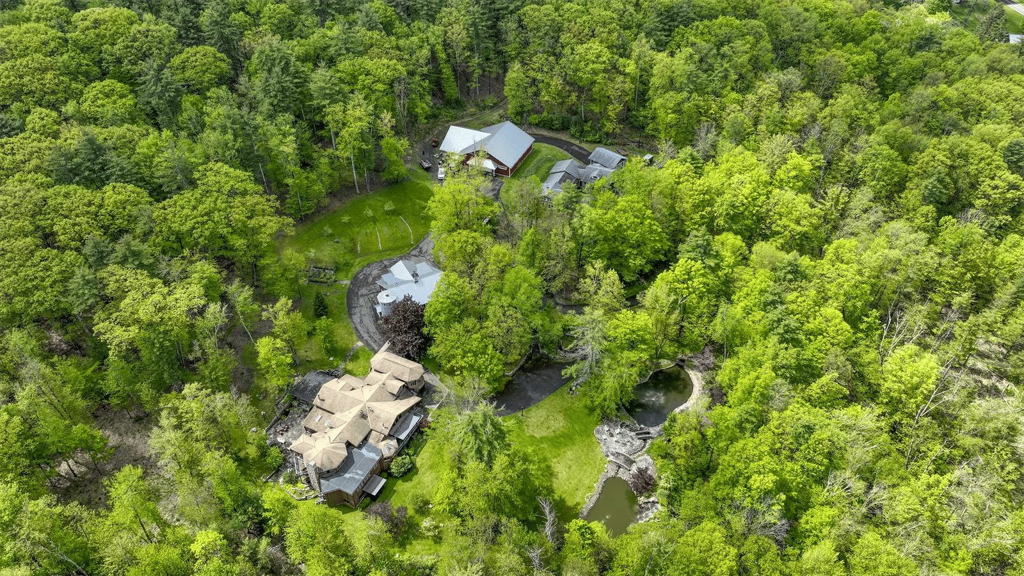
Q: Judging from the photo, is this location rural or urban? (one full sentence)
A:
From above, the setting appears rural.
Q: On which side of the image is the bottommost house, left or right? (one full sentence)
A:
The bottommost house appears in the left half of the scene.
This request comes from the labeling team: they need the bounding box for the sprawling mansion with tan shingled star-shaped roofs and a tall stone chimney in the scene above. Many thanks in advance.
[289,341,424,507]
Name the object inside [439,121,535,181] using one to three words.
barn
